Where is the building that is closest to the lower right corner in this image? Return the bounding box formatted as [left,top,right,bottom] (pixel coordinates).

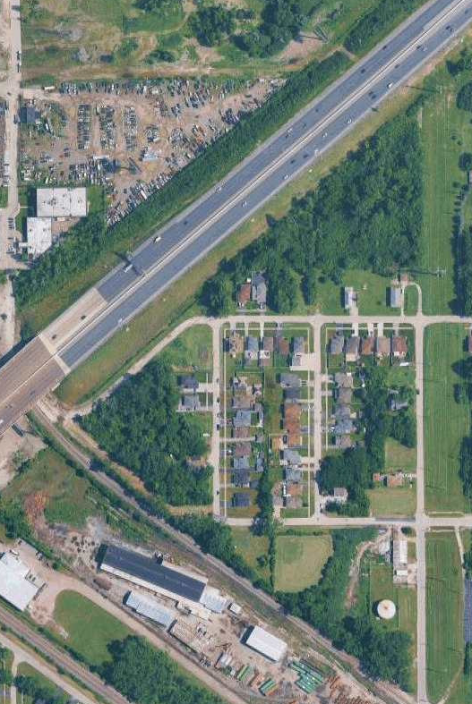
[392,540,407,584]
